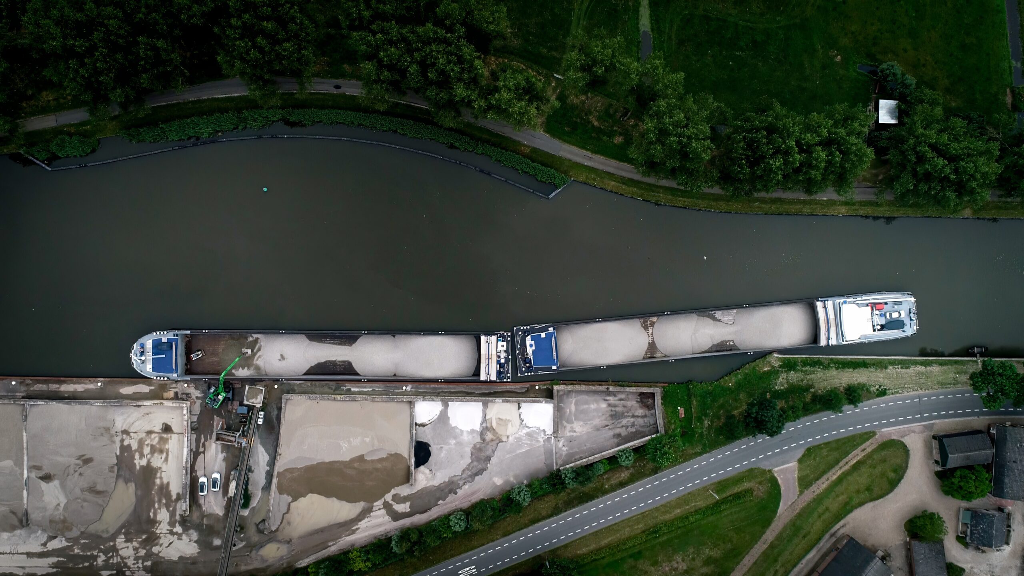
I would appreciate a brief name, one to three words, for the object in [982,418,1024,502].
barn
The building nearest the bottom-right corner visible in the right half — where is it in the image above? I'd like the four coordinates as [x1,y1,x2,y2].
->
[955,506,1013,549]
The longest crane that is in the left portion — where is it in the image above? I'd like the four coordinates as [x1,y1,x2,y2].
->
[205,348,255,410]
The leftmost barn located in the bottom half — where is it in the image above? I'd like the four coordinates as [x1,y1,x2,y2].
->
[811,535,900,576]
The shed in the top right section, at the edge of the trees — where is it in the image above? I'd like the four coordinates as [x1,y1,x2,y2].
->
[873,100,898,125]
